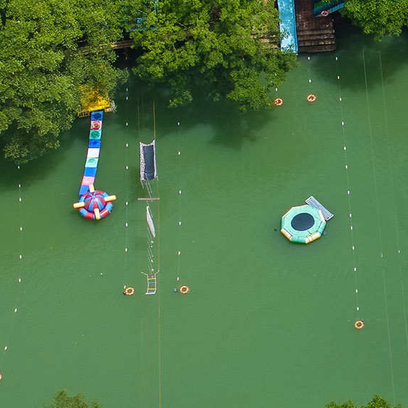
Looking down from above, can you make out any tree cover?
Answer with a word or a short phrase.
Yes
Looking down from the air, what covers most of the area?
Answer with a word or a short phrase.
water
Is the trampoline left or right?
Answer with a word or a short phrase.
right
